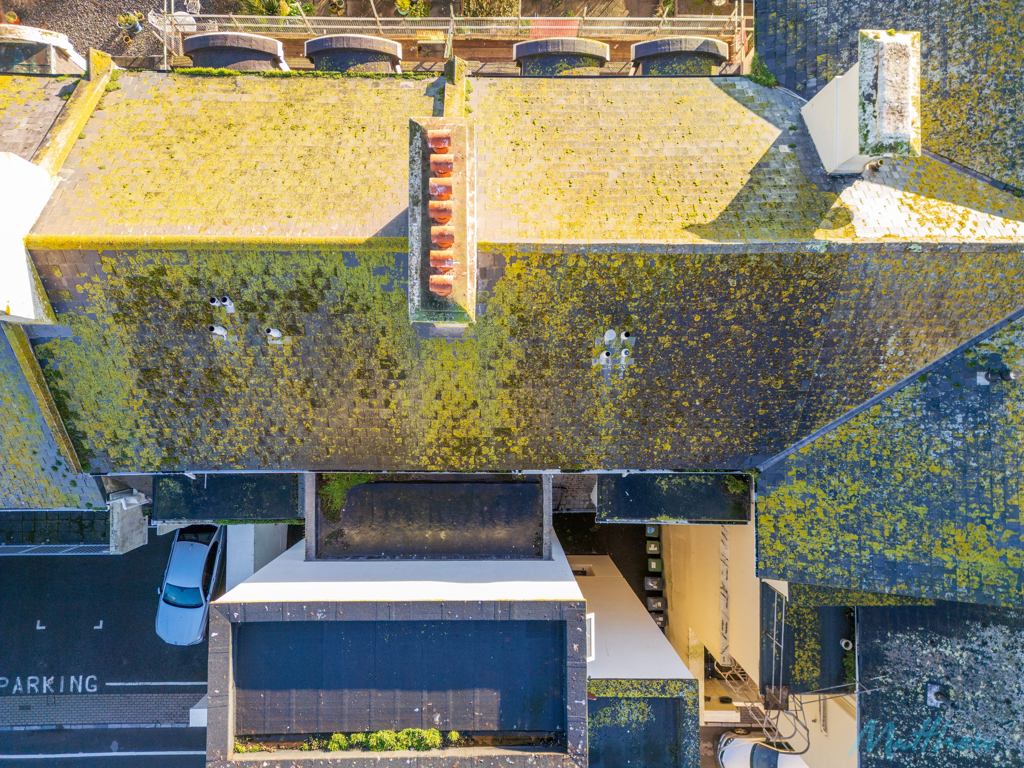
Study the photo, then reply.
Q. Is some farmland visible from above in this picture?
No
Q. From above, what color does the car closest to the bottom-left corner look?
blue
